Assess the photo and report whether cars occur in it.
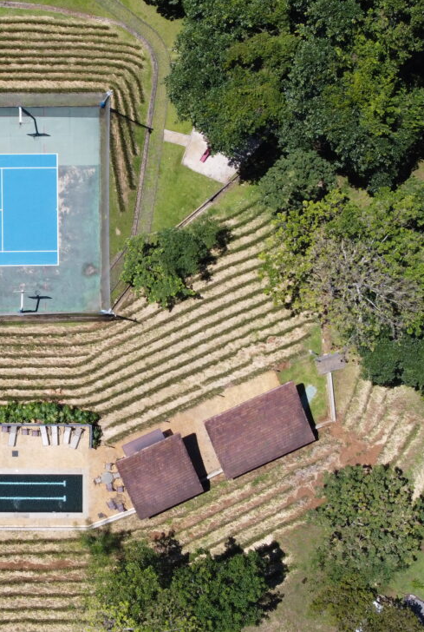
No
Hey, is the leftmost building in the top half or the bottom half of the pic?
bottom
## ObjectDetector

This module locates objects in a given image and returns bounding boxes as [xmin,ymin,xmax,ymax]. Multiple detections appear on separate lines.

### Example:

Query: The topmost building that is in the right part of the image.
[203,383,316,480]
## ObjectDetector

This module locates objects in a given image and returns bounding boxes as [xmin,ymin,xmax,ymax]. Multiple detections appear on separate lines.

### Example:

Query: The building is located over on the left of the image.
[115,432,204,520]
